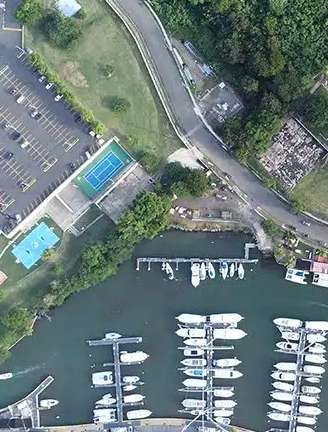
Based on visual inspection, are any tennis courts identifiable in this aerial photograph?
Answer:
Yes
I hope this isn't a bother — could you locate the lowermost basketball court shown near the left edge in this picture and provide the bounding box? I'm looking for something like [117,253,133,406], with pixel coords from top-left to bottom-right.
[12,223,60,269]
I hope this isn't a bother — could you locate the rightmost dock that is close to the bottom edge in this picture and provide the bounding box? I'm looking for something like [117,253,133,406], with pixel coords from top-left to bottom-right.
[265,326,328,432]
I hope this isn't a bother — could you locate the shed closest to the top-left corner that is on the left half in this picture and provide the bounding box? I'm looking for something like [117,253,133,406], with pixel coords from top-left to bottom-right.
[56,0,82,19]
